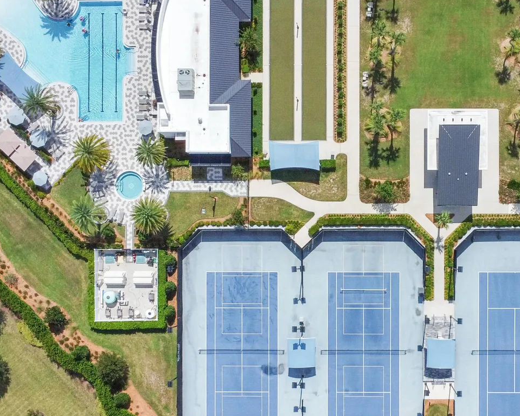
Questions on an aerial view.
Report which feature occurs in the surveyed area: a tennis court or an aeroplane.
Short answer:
tennis court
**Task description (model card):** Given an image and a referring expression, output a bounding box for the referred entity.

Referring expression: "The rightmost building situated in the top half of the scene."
[427,110,487,205]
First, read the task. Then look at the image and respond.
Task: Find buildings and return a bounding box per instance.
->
[150,0,252,168]
[427,110,487,205]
